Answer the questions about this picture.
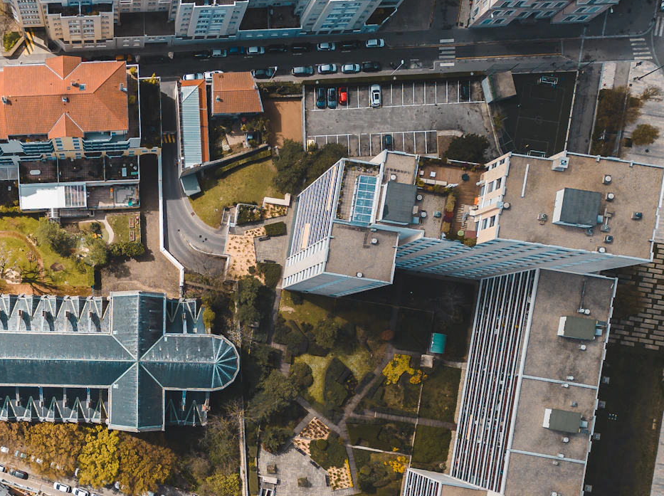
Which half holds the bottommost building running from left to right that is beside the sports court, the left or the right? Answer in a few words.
right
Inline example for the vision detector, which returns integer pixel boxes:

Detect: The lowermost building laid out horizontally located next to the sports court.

[278,150,664,296]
